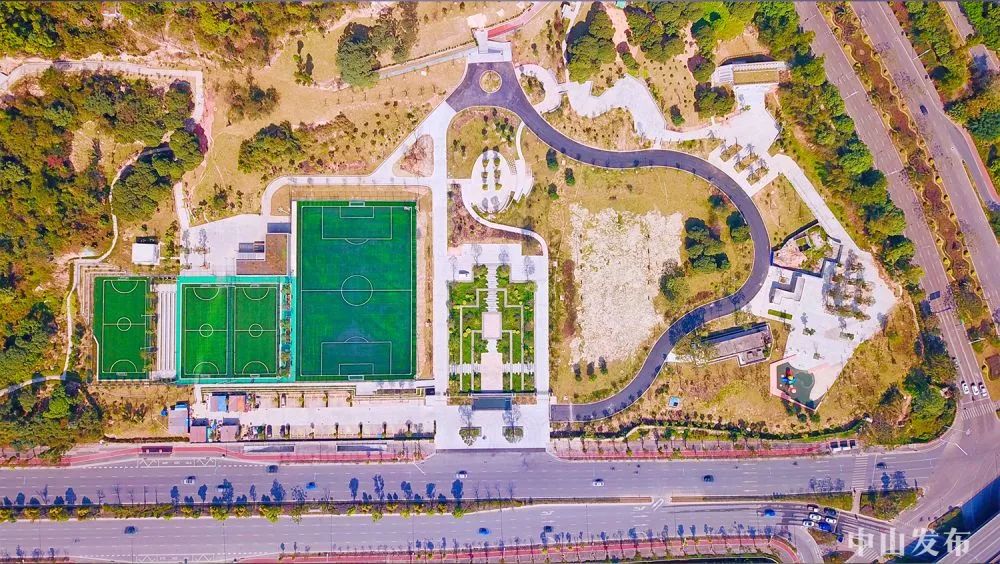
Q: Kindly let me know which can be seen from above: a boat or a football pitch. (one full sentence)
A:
Visible in the photo is a football pitch.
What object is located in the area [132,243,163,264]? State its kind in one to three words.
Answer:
shed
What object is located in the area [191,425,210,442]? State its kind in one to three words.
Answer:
shed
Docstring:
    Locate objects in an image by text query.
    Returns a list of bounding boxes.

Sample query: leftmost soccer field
[94,276,149,380]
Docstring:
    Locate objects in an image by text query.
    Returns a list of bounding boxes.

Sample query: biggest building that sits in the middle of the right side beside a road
[697,320,771,358]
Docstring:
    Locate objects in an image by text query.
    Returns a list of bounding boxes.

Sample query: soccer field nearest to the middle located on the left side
[295,202,417,381]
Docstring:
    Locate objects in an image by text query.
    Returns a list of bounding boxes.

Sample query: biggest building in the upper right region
[717,62,788,87]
